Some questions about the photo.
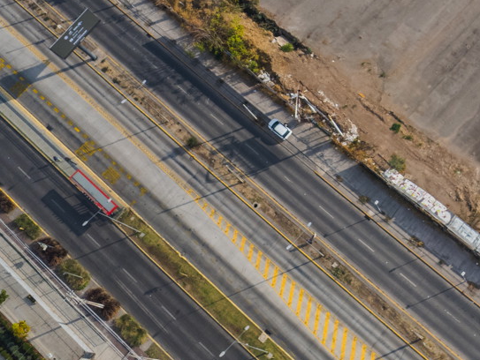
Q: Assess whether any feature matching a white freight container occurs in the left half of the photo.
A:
No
